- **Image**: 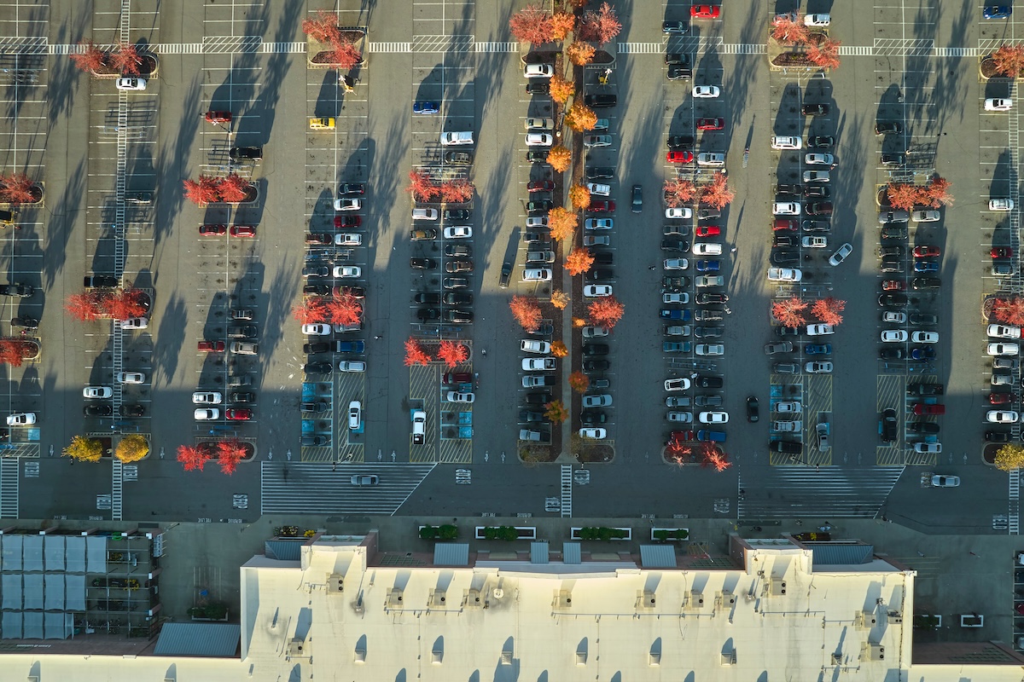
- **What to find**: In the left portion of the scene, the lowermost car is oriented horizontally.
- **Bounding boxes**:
[350,474,380,487]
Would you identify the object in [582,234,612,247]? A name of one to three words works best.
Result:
vehicle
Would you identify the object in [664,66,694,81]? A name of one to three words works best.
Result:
car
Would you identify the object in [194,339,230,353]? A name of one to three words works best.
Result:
vehicle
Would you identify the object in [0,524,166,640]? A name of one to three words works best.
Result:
building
